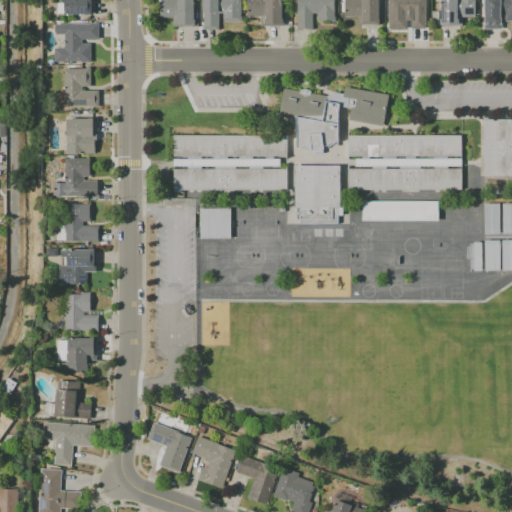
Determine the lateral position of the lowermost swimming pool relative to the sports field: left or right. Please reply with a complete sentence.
To the left of the sports field is where the lowermost swimming pool appears.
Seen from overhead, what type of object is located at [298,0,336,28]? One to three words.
house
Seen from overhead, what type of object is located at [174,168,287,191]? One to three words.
building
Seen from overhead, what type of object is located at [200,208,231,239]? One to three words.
building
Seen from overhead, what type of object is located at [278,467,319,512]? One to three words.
house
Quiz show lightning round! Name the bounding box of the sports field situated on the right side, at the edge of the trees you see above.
[201,286,512,470]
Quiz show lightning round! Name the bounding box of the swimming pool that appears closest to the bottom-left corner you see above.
[35,376,56,402]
